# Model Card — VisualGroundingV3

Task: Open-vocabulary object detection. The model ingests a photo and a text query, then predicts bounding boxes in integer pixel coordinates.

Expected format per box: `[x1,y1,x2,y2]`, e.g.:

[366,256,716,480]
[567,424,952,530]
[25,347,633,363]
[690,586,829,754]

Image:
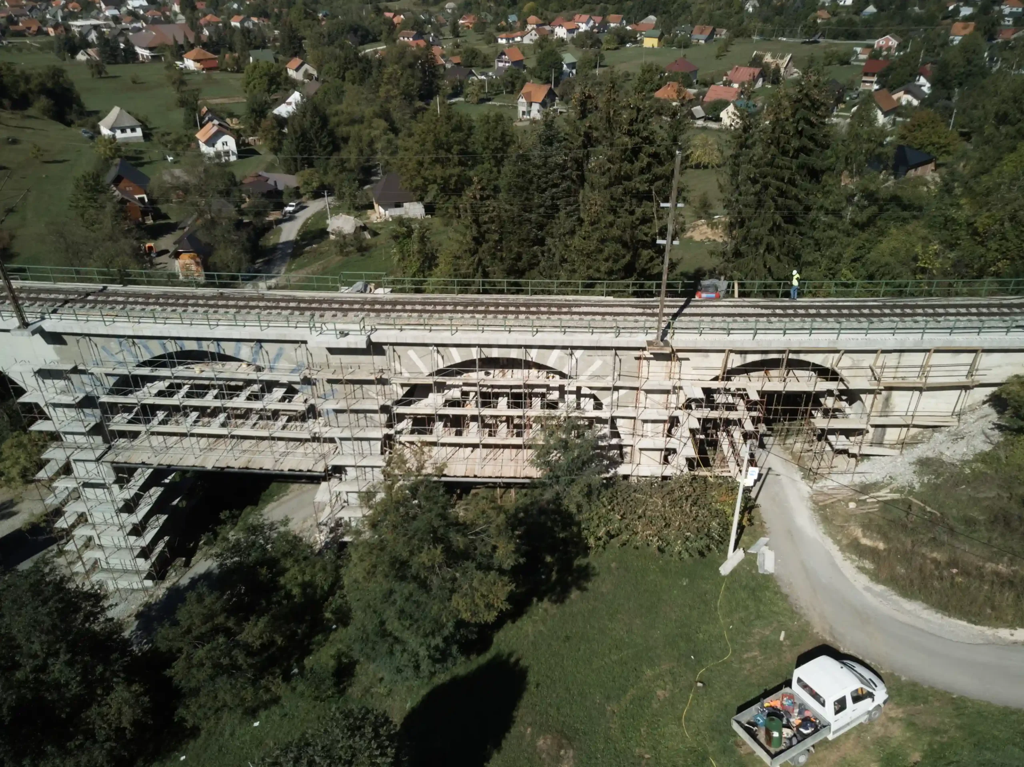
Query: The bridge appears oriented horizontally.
[0,276,1024,564]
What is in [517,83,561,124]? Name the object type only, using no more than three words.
house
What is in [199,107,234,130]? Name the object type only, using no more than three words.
house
